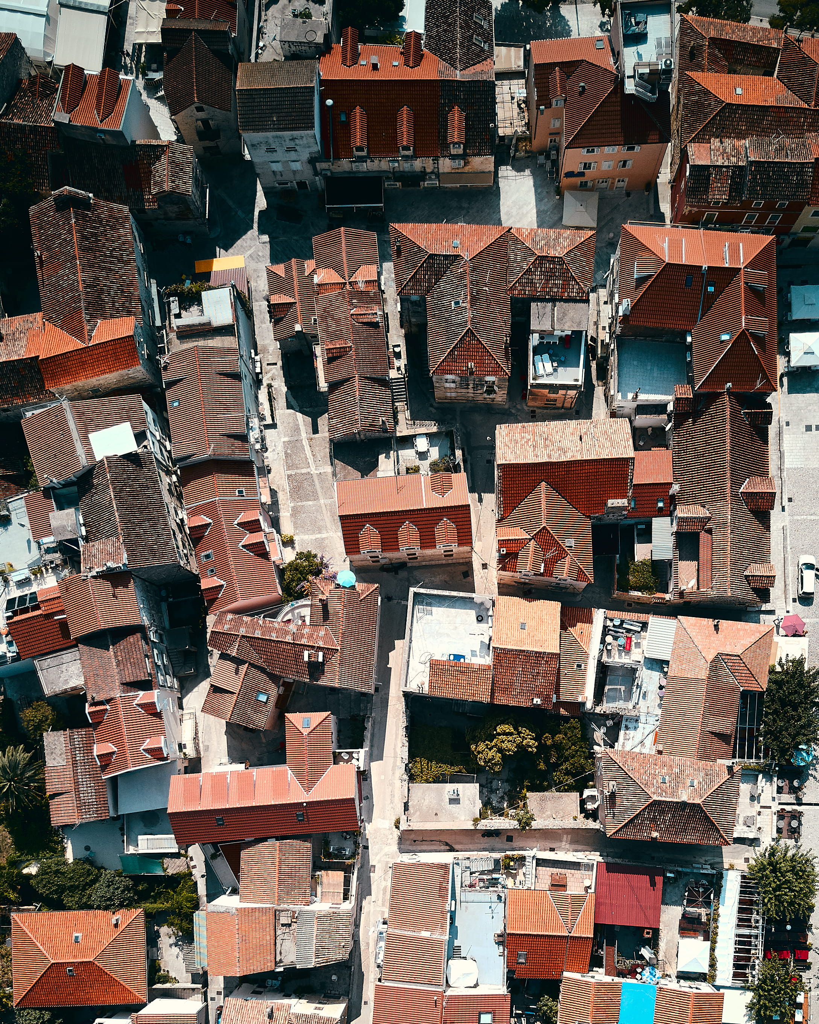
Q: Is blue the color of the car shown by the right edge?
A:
No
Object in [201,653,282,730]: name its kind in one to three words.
house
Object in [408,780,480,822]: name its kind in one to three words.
shed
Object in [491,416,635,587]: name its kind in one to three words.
house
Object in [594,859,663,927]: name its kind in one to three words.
building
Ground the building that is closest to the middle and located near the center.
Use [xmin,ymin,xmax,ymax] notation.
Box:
[334,472,474,561]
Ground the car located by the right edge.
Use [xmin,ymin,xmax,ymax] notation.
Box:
[798,556,819,597]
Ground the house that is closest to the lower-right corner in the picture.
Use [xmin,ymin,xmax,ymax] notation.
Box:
[654,972,725,1024]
